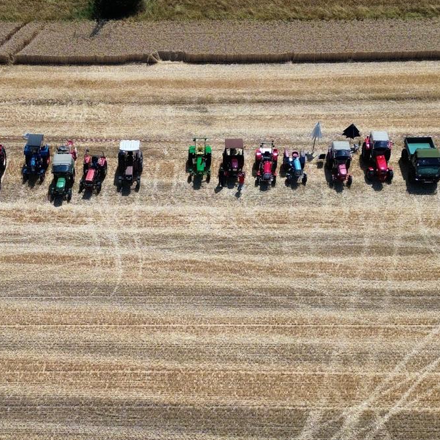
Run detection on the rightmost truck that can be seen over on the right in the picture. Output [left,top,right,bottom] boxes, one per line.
[406,139,440,182]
